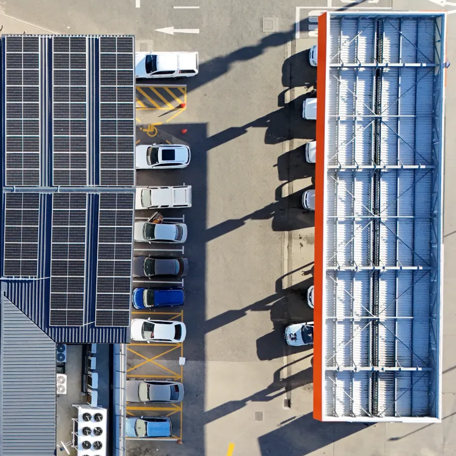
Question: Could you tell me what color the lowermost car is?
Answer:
blue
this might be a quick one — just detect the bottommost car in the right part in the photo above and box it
[282,319,311,348]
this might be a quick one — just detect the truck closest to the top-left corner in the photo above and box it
[135,49,201,82]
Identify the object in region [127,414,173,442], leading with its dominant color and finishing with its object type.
blue car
